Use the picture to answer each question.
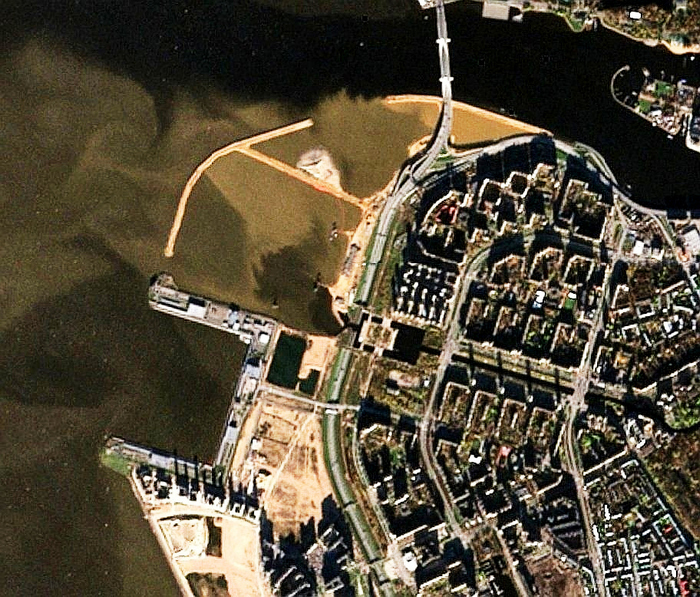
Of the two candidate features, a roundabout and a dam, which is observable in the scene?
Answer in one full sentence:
It is a dam that can be seen here.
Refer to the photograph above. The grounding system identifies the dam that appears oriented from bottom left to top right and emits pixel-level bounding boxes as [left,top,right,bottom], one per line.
[166,118,313,256]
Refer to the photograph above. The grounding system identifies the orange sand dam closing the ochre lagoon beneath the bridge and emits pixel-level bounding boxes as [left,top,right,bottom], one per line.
[388,94,549,133]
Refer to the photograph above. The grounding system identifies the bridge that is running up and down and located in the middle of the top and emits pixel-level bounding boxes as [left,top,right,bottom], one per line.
[394,0,455,201]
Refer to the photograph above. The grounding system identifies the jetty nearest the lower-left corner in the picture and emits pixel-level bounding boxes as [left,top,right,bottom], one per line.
[101,436,216,477]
